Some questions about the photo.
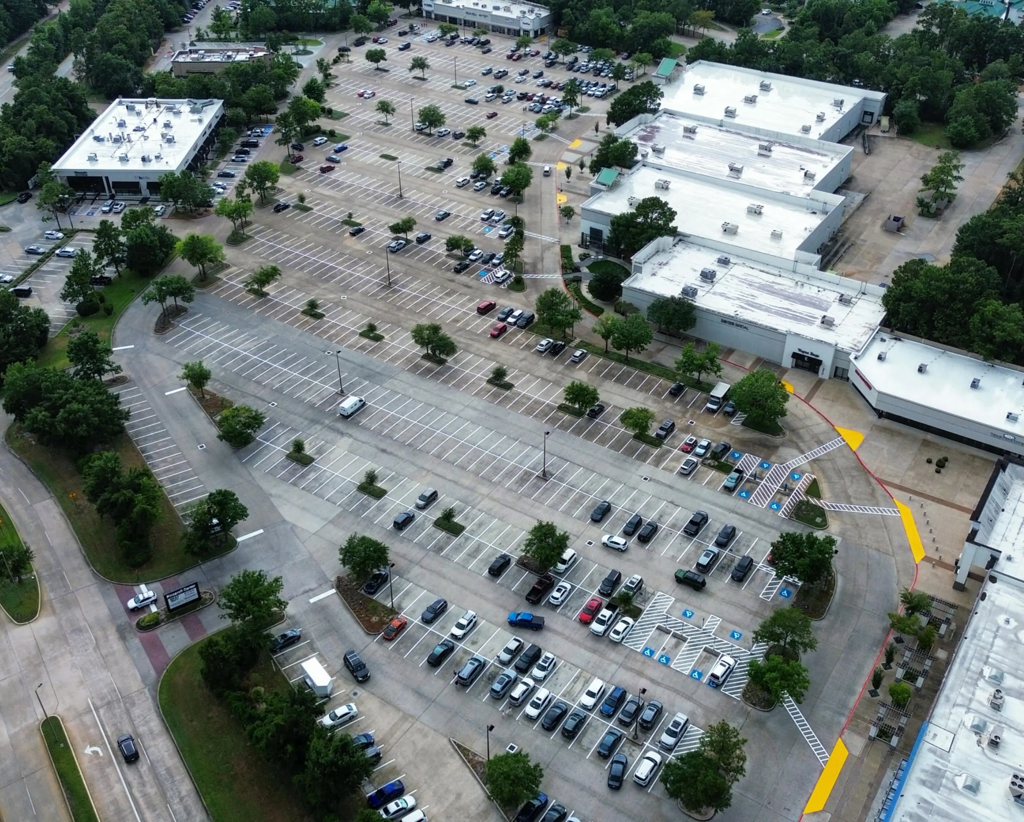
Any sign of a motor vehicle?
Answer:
Yes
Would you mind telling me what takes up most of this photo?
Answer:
paved ground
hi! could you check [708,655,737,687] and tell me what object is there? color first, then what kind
white car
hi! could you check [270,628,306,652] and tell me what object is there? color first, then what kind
black car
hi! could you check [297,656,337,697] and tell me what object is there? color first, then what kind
white trailer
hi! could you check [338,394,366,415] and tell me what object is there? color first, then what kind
white vehicle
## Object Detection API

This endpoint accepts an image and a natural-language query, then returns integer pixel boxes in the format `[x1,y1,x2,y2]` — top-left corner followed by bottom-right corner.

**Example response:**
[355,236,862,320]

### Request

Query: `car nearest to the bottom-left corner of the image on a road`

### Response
[117,732,141,766]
